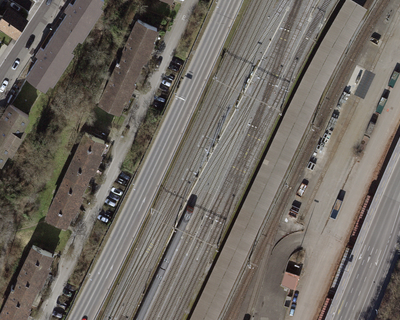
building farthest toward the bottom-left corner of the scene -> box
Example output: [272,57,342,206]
[0,244,52,320]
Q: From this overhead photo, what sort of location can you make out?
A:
rail yard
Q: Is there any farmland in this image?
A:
No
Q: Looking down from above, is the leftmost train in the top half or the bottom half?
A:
bottom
